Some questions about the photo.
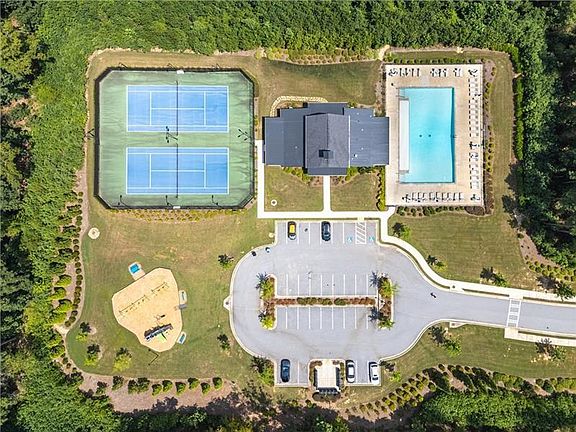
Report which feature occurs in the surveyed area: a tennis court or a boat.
tennis court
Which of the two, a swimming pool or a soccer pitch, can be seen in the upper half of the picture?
swimming pool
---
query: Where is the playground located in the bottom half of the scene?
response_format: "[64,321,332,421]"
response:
[111,267,184,353]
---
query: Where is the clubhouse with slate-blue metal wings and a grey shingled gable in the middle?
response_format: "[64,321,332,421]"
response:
[265,103,389,175]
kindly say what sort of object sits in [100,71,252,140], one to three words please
tennis court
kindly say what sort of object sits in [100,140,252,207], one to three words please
tennis court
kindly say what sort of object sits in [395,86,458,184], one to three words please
swimming pool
